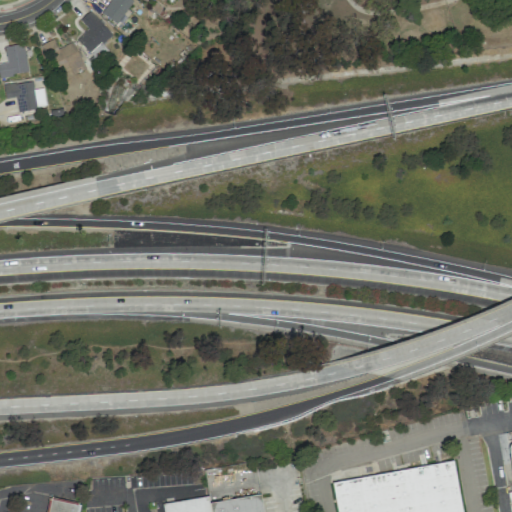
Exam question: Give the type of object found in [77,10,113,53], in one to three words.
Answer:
house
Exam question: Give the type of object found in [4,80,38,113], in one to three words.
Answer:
house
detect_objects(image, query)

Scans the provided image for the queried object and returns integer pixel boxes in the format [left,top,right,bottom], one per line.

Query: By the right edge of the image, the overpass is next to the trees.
[325,299,512,388]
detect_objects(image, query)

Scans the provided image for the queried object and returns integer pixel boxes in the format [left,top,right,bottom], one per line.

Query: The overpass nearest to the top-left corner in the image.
[0,176,96,221]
